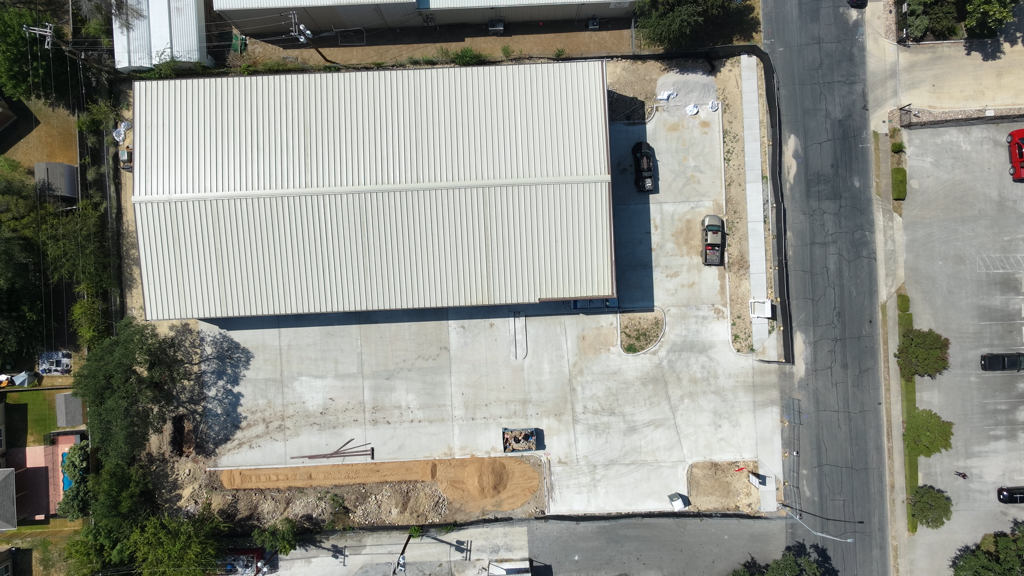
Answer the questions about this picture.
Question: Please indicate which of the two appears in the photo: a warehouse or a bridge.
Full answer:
There is a warehouse in the scene.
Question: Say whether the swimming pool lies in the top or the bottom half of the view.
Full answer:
Seen from above, the swimming pool lies in the bottom half of the view.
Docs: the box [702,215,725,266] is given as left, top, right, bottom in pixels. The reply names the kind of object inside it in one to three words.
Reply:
truck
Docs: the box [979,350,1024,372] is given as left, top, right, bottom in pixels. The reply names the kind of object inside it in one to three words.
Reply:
truck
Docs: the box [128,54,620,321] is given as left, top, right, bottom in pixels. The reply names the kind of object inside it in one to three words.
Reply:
warehouse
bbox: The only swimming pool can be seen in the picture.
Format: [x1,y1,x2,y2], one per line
[61,452,81,493]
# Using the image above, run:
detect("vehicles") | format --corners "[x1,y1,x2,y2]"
[995,484,1024,503]
[1005,130,1024,183]
[631,142,654,194]
[979,350,1024,372]
[845,0,866,8]
[702,215,725,266]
